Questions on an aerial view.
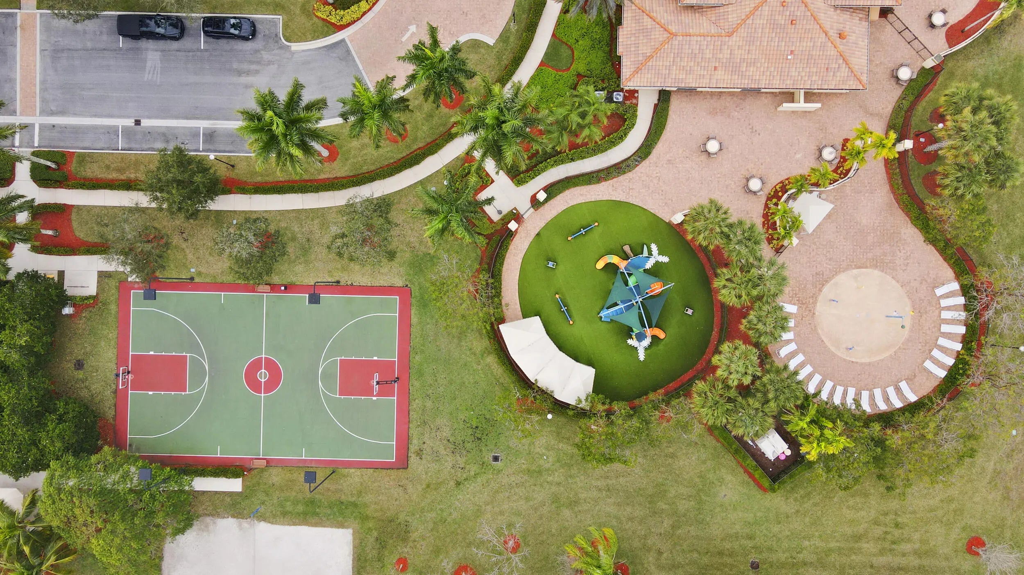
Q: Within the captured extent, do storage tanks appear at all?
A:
No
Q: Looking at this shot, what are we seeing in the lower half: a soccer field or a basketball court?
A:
basketball court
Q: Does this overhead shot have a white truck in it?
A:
No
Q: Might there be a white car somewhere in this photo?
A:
No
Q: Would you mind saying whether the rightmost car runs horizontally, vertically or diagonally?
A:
horizontally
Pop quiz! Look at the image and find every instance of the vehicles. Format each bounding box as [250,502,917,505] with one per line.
[202,13,257,40]
[118,10,185,39]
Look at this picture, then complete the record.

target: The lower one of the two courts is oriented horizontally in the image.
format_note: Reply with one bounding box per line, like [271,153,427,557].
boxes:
[163,506,352,575]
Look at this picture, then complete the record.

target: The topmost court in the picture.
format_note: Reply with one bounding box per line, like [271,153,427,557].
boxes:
[115,281,411,469]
